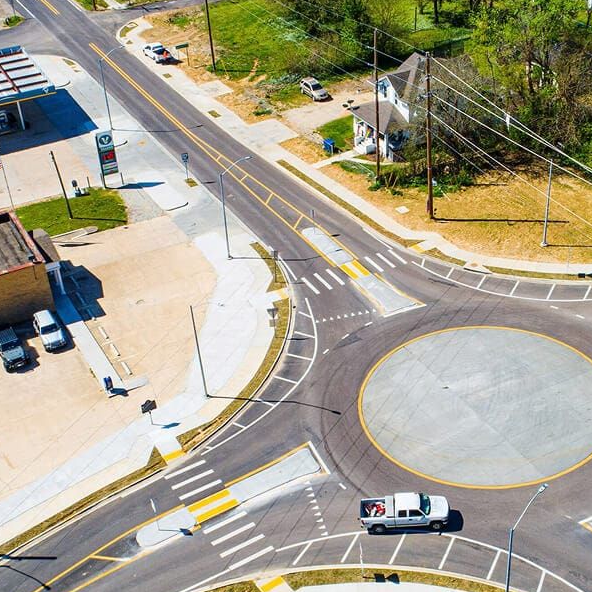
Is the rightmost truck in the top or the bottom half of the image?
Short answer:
bottom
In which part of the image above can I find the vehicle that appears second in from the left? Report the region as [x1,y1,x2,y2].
[28,306,71,352]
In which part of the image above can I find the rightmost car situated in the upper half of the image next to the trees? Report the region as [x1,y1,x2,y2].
[298,75,328,99]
